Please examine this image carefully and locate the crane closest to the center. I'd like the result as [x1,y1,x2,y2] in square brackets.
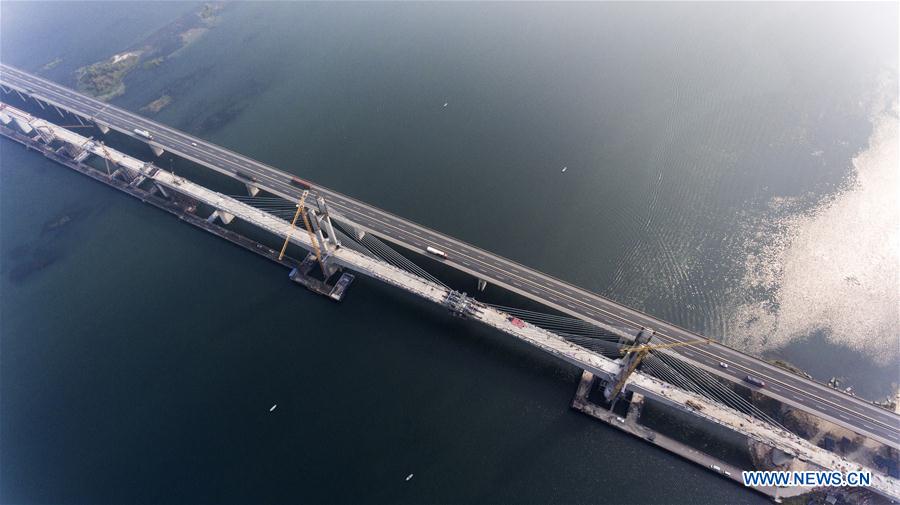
[278,190,330,284]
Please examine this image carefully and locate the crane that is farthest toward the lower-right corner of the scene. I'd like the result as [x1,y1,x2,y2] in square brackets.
[613,339,709,408]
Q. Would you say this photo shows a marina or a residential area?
marina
